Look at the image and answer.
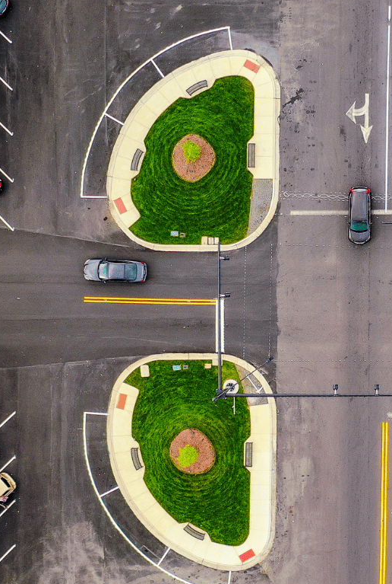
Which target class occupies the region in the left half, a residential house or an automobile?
automobile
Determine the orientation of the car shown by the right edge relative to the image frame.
vertically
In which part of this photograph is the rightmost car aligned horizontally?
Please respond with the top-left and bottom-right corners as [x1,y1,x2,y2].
[85,255,149,284]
